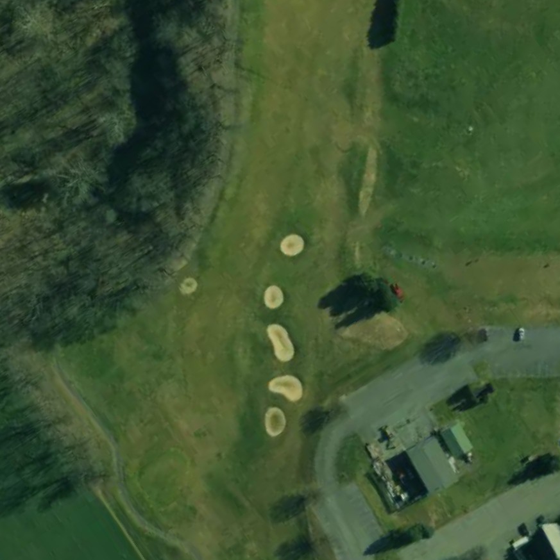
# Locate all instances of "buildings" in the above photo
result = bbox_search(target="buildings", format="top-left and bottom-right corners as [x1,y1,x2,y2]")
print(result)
[512,518,560,560]
[407,436,457,494]
[441,425,472,459]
